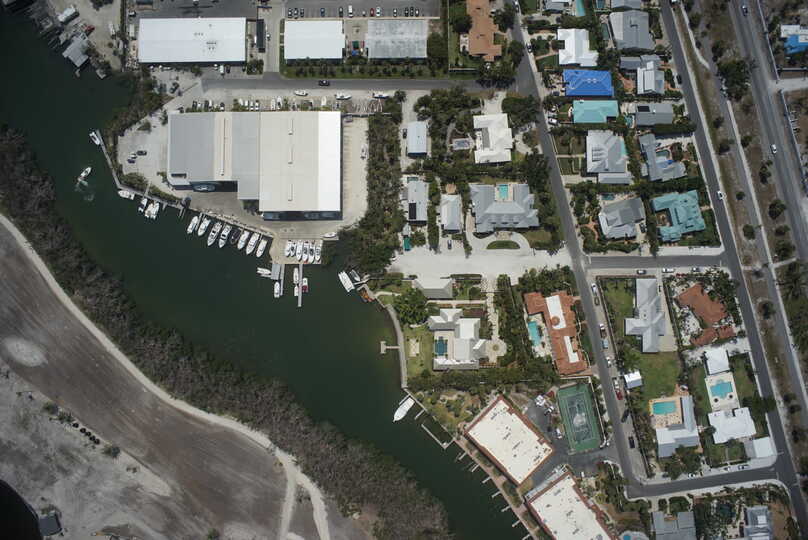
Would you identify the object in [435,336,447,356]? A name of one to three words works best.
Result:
swimming pool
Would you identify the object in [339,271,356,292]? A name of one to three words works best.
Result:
boat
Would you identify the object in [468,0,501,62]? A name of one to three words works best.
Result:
house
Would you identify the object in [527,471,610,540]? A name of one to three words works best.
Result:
building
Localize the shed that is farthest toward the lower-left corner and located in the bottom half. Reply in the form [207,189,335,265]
[39,511,62,534]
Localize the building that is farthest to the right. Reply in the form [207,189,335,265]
[780,25,808,54]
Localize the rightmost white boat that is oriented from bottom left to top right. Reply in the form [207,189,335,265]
[393,396,417,422]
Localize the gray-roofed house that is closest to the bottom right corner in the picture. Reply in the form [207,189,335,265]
[743,505,772,540]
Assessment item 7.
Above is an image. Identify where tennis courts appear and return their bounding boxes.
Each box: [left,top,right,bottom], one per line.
[559,384,600,452]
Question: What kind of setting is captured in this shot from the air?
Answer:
residential area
